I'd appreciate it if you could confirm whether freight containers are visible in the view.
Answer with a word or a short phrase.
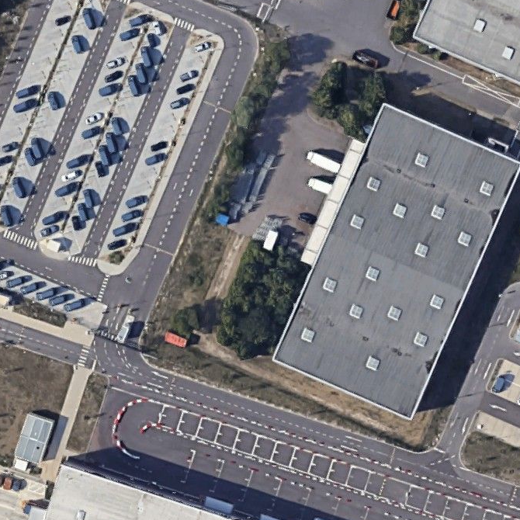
Yes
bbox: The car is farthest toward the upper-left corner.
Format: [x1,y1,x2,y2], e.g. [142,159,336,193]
[54,14,73,27]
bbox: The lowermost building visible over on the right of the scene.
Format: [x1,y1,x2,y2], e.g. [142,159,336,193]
[273,104,520,419]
